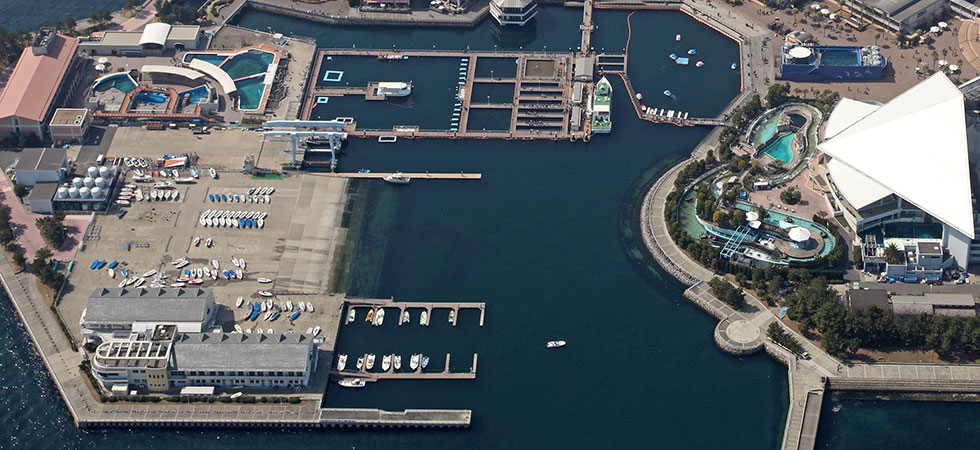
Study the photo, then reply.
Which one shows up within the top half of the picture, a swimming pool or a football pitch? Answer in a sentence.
It is a swimming pool that can be seen within the top half of the picture.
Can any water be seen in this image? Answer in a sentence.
Yes, some water is visible.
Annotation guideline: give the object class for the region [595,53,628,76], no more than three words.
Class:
pier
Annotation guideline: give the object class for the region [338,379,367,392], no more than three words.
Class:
boat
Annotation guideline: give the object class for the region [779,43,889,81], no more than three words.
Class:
building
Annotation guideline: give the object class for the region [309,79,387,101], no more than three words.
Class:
pier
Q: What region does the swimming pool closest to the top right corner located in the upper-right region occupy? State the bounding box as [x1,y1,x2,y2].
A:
[821,49,858,66]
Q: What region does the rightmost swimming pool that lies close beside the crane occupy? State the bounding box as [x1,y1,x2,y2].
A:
[182,44,284,119]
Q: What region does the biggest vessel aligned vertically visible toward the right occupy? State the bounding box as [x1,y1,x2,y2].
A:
[593,77,612,137]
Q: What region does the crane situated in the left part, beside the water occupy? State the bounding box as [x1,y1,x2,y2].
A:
[262,118,350,171]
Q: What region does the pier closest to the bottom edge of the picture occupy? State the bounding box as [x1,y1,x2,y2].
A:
[322,408,471,432]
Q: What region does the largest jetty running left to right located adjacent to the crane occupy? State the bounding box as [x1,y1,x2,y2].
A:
[303,48,583,140]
